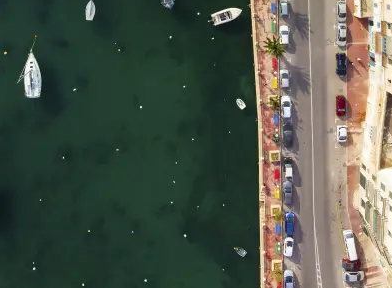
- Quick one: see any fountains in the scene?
No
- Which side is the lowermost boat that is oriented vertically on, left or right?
left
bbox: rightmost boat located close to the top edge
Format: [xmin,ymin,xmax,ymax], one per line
[209,9,242,28]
